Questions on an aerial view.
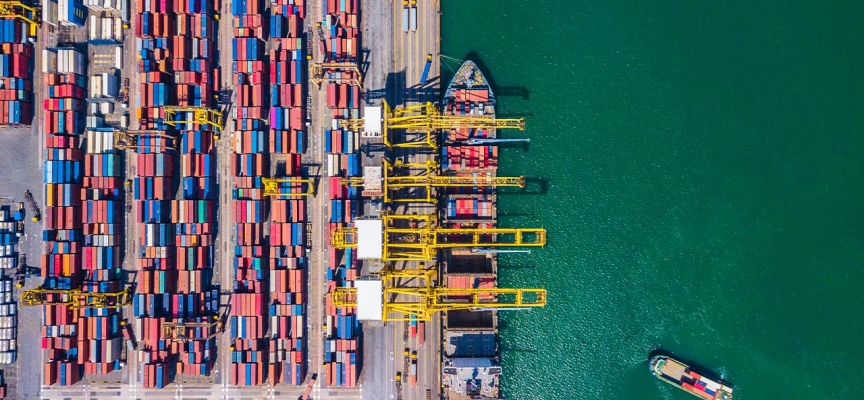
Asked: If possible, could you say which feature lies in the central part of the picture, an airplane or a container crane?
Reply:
container crane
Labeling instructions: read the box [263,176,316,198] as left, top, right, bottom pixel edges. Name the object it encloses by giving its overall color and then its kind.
yellow crane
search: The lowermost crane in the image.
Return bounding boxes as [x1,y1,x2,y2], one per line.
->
[163,317,231,343]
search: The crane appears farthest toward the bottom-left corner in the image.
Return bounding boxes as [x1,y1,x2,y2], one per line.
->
[22,283,84,309]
